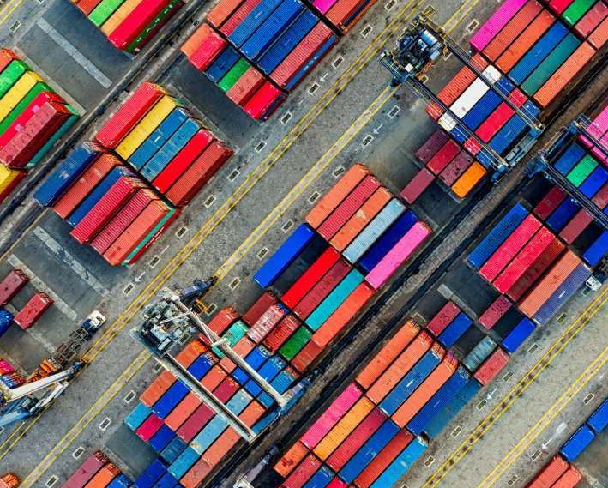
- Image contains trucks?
Yes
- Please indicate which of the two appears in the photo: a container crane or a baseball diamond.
container crane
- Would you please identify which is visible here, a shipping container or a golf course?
shipping container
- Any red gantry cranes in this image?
No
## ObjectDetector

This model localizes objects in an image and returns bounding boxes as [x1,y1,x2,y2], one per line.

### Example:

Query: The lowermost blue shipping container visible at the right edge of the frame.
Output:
[561,422,596,461]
